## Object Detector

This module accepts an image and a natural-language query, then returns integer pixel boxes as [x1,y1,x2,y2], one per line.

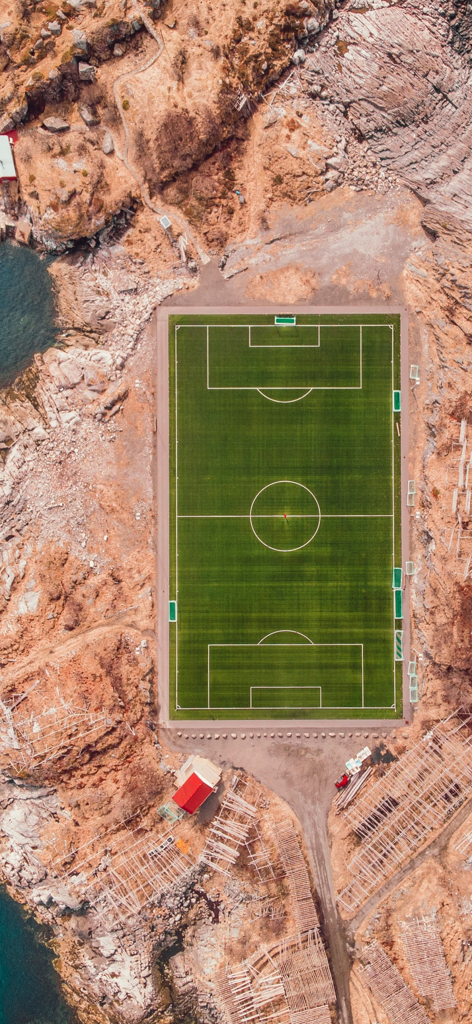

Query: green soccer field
[157,306,409,727]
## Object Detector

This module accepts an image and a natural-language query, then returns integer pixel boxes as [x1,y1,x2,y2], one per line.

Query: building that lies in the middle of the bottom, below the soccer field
[172,770,213,814]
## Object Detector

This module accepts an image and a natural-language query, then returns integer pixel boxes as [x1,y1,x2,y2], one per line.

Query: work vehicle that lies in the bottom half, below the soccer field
[335,773,350,789]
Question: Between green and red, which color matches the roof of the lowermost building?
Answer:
red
